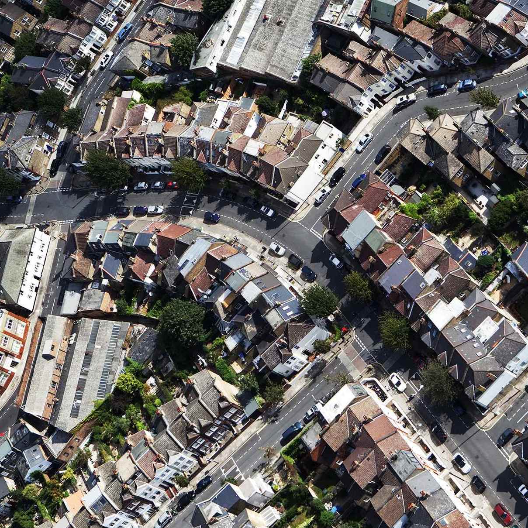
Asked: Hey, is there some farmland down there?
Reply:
No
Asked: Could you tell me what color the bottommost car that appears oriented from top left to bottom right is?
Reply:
red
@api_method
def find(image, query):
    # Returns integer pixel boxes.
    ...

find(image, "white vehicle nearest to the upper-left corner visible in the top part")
[99,49,114,67]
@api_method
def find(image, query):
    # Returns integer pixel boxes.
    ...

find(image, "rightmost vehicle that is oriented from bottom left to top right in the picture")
[495,427,517,450]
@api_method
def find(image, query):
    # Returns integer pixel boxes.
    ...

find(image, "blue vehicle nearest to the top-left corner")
[116,22,134,41]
